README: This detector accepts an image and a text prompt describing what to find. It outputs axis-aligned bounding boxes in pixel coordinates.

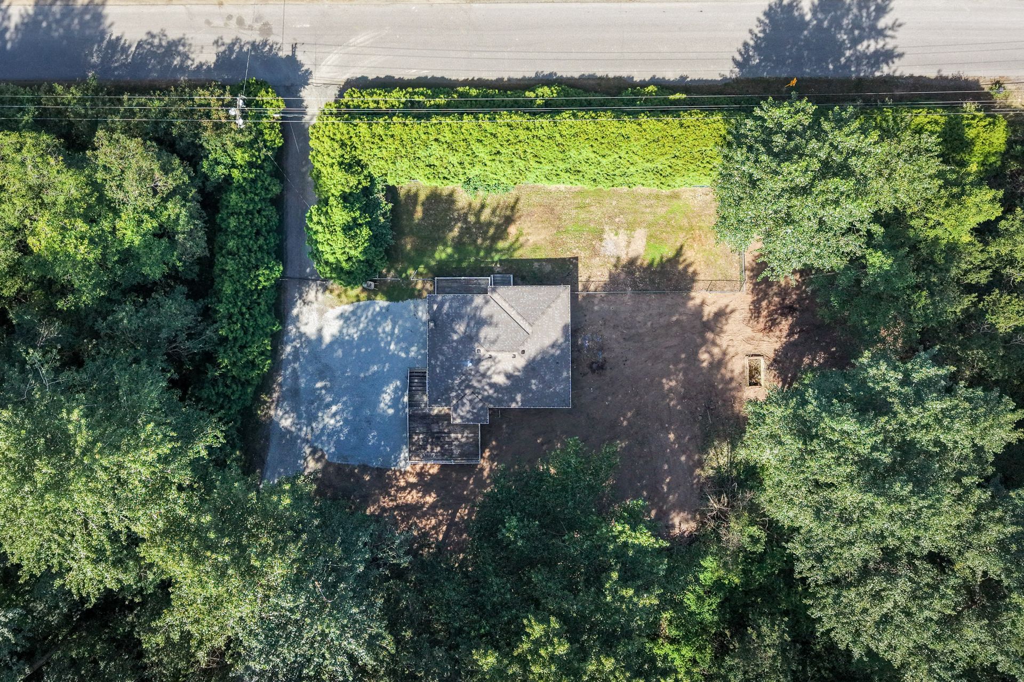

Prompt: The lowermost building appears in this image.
[426,285,572,425]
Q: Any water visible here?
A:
No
